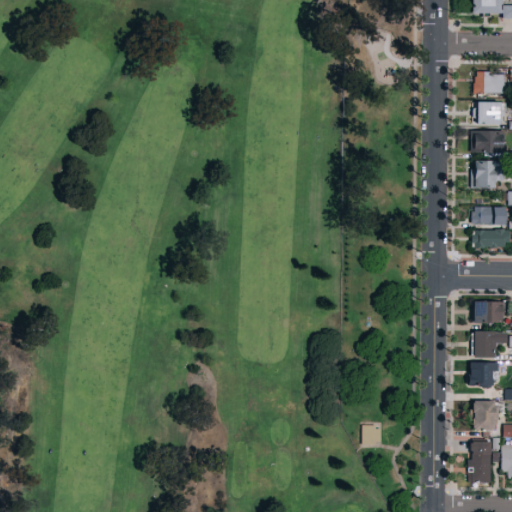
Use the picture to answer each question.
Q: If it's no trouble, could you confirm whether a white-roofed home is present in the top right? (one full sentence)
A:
Yes, a white-roofed home appears in the top right.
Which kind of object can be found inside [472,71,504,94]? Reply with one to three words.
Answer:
house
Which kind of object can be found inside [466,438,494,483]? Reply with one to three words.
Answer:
building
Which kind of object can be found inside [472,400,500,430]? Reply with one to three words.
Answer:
house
